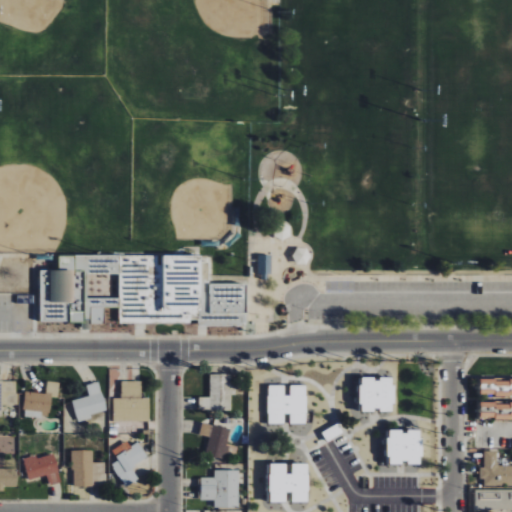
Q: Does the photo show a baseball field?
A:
Yes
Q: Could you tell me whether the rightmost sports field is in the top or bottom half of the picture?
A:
top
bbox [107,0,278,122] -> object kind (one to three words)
baseball field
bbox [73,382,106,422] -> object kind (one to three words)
house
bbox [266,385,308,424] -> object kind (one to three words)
building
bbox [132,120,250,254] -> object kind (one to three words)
baseball field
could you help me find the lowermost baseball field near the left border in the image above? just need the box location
[0,76,132,254]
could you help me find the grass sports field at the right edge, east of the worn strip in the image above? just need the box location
[420,0,512,270]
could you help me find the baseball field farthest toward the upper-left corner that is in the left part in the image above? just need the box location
[0,0,106,76]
